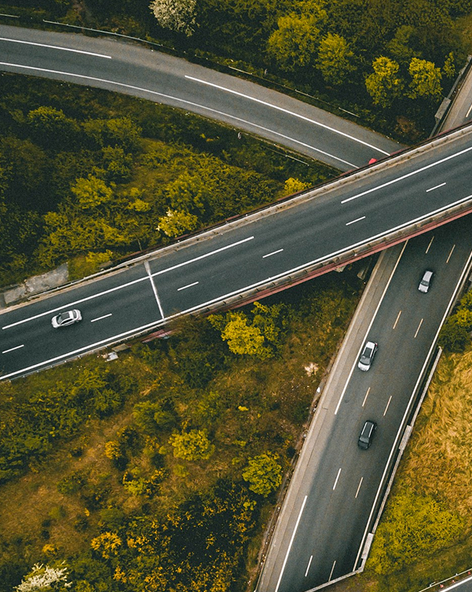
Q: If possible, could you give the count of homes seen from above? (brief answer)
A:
0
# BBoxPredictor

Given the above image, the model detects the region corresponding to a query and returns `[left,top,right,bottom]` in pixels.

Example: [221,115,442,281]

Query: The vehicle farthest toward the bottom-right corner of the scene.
[355,420,375,450]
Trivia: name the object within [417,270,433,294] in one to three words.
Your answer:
car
